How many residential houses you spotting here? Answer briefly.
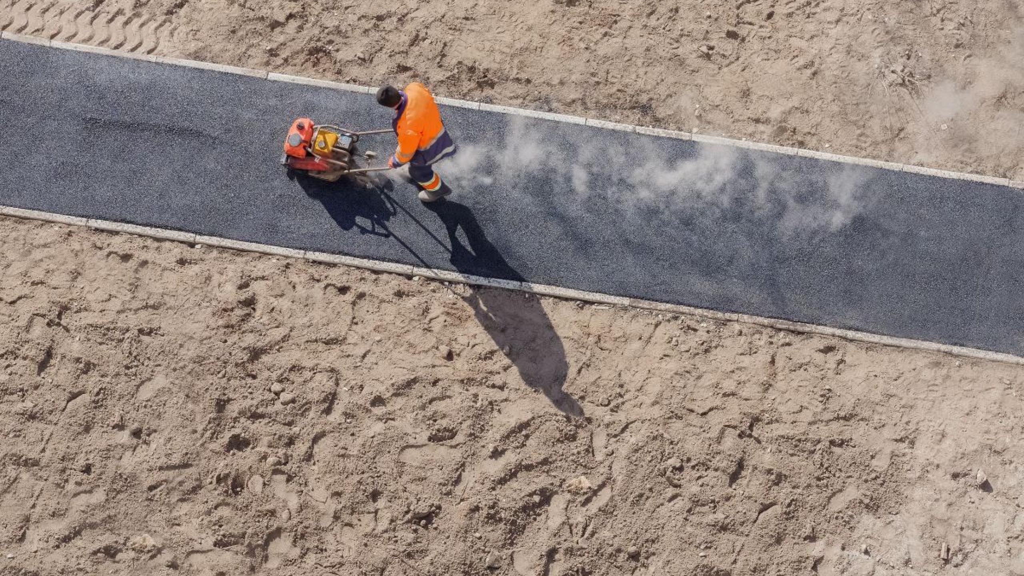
0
